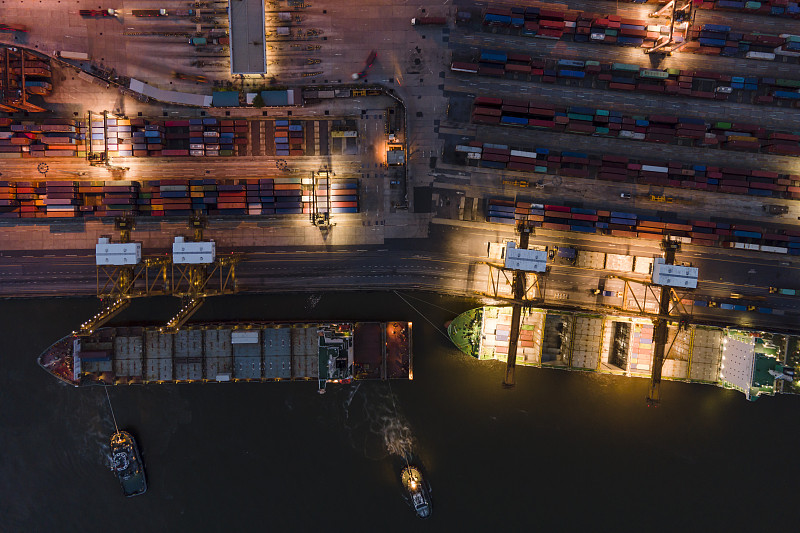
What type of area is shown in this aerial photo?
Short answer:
port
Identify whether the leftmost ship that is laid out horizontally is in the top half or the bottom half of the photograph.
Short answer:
bottom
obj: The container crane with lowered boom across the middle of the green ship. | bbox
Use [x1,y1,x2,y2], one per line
[598,234,698,406]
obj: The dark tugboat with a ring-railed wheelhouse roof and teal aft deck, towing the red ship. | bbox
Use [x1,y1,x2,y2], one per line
[108,432,146,498]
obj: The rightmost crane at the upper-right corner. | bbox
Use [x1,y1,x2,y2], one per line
[642,0,693,58]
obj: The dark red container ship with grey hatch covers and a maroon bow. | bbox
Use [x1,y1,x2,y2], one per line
[38,320,413,392]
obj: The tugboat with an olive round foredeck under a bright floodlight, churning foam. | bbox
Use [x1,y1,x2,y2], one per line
[400,458,433,519]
